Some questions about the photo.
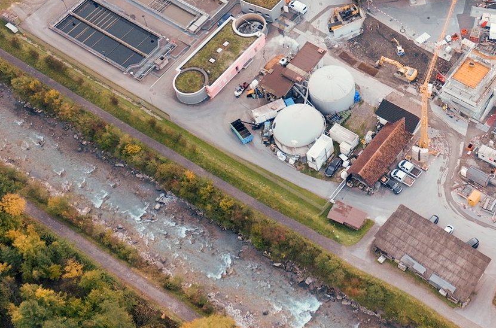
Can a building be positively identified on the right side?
Yes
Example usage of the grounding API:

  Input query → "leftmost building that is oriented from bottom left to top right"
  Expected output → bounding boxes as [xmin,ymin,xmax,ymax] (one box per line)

[172,12,267,105]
